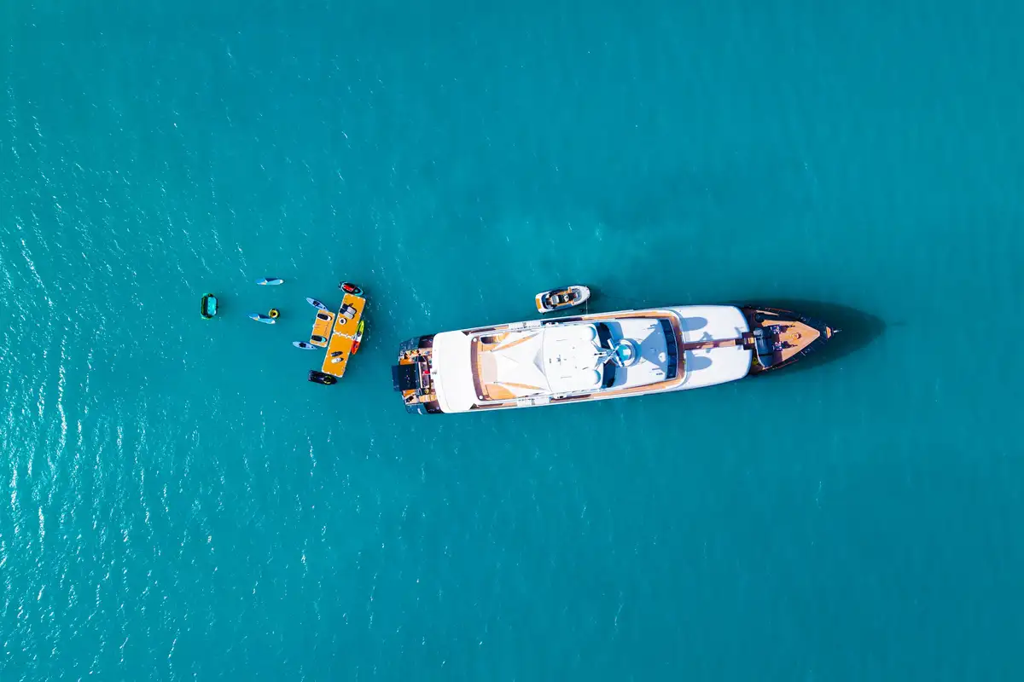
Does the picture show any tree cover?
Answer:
No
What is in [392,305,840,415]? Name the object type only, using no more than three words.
boat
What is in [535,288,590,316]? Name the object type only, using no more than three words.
boat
